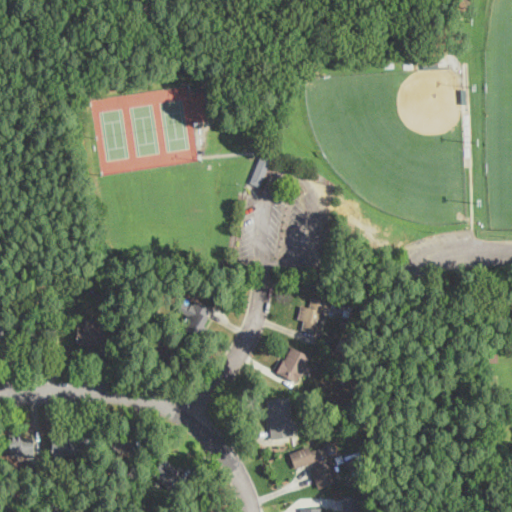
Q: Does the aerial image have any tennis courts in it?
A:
Yes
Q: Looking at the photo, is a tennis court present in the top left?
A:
Yes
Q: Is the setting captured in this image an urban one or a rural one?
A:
rural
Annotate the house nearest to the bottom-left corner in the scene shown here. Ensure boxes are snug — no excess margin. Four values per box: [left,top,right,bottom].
[8,438,36,458]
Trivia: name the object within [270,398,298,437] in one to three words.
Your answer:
house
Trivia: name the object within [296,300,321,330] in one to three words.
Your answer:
house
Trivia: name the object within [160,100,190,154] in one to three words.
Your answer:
tennis court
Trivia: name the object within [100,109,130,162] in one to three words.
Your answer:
tennis court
